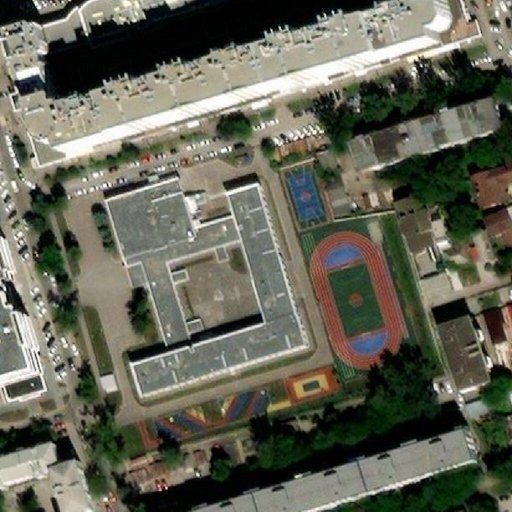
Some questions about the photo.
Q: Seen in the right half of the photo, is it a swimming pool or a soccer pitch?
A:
soccer pitch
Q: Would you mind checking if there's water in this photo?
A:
No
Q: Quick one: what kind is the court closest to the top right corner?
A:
basketball court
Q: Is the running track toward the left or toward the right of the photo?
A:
right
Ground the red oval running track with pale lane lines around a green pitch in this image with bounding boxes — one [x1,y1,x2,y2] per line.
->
[311,230,403,370]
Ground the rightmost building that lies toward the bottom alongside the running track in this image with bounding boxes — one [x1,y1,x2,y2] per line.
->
[438,316,490,392]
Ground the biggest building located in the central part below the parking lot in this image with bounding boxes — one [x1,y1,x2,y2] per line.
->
[106,174,308,398]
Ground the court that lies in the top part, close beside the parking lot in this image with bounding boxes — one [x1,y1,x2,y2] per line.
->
[281,159,331,231]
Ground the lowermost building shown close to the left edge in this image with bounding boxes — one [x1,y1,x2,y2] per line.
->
[0,444,97,512]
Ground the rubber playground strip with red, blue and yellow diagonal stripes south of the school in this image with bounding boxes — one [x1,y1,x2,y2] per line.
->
[138,390,291,448]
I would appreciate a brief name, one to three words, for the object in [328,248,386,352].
soccer field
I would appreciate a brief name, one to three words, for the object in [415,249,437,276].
shed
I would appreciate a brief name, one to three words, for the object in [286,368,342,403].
sports court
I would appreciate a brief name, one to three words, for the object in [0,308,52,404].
building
